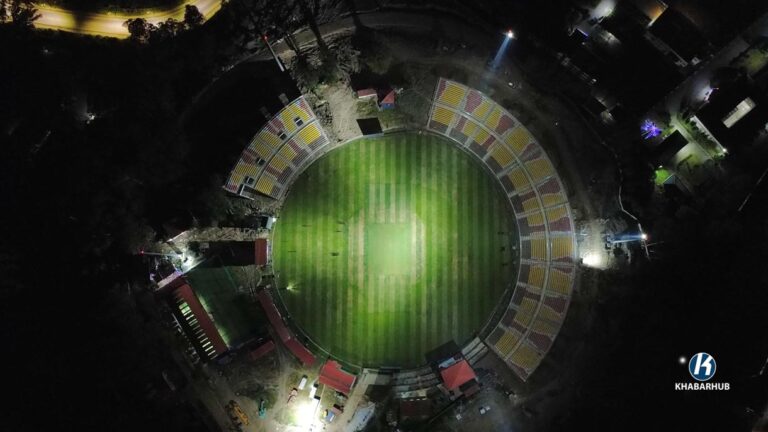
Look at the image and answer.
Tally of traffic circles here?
0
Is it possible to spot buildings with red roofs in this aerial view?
Yes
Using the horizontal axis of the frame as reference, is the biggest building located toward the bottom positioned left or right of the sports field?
to the left of it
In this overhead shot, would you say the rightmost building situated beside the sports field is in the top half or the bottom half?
bottom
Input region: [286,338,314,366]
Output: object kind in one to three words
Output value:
building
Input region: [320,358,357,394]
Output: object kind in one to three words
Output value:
building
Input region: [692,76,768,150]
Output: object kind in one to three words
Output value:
house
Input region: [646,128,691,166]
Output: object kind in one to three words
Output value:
house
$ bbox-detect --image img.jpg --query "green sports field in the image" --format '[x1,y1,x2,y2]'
[274,134,518,368]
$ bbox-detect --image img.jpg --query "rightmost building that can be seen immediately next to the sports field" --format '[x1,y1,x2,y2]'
[440,352,479,397]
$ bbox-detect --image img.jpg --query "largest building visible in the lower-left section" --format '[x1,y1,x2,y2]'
[164,283,230,363]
